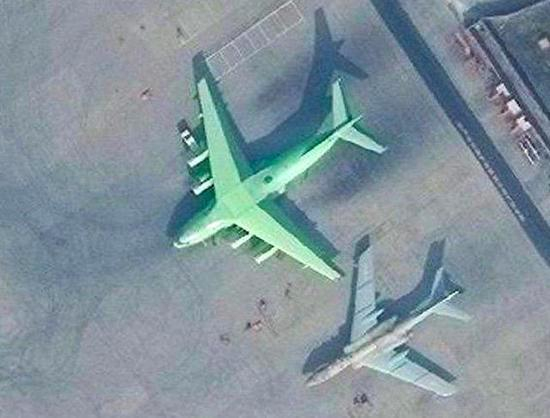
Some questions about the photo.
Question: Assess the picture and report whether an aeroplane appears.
Yes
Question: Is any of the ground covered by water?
No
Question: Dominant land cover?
paved ground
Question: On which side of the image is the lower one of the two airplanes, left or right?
right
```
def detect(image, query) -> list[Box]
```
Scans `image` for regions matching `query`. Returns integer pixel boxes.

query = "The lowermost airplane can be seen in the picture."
[305,250,475,396]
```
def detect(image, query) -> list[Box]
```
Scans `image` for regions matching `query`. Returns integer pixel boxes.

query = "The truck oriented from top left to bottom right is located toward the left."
[177,127,200,152]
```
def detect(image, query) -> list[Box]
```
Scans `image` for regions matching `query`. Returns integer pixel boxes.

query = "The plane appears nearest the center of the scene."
[175,77,388,279]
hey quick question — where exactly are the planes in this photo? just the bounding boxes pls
[175,77,388,279]
[305,250,475,396]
